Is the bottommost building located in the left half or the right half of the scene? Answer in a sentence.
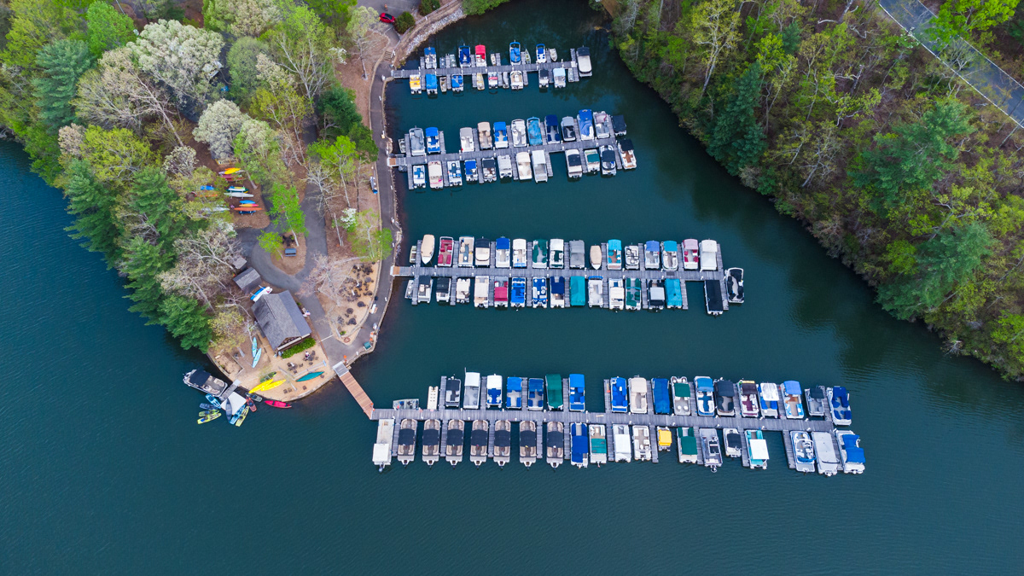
The bottommost building sits on the left side.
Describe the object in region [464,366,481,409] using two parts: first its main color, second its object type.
white boat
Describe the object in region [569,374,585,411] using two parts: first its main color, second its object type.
blue boat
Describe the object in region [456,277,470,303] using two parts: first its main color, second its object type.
white boat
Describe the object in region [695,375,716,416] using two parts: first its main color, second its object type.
blue boat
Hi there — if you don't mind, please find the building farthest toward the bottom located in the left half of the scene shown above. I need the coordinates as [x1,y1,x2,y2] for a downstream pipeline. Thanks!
[253,291,315,356]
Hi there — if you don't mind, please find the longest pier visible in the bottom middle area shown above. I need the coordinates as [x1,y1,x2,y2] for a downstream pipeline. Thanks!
[369,376,843,471]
